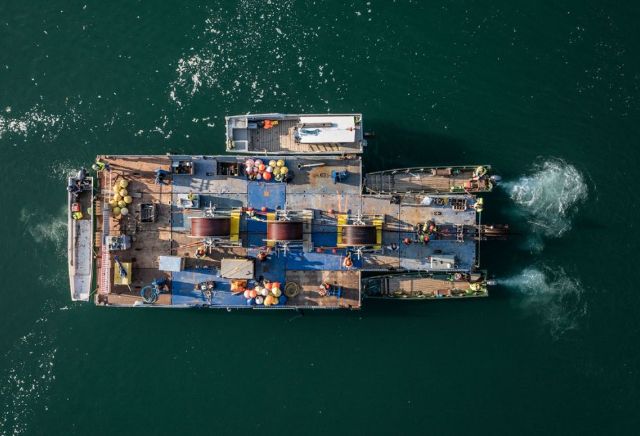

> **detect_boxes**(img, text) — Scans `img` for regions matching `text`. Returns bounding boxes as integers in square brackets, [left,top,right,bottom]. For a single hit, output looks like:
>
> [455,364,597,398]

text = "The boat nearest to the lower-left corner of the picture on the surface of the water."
[69,155,97,302]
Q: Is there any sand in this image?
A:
No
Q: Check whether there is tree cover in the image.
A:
No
